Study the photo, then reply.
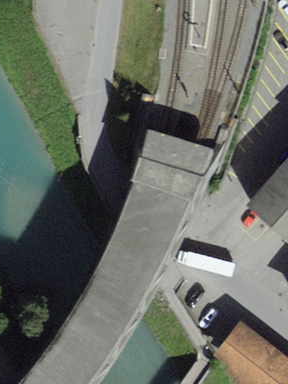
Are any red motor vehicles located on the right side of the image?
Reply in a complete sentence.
Yes, a red motor vehicle shows up on the right side of the image.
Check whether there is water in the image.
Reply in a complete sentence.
Yes, there is water in the image.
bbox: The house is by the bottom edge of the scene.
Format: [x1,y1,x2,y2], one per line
[210,322,288,384]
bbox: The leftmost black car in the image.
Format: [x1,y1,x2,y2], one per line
[188,284,204,307]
